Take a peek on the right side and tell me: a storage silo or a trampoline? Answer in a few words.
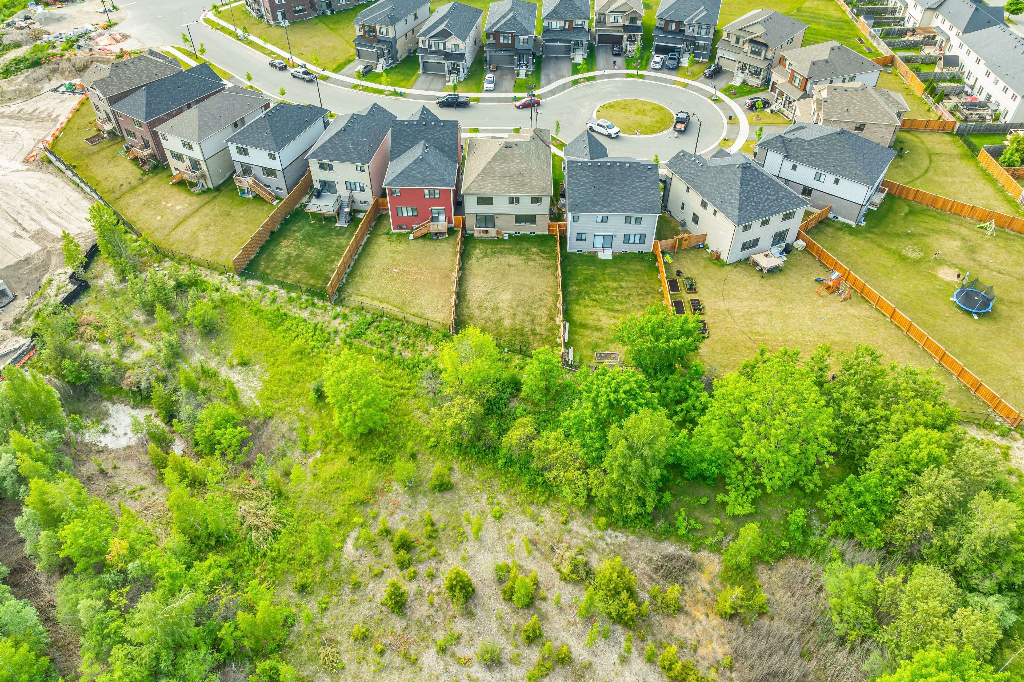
trampoline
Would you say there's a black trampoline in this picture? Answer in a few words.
No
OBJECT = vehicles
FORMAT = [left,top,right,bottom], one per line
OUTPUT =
[514,96,542,109]
[436,94,469,109]
[586,120,622,139]
[746,94,773,108]
[667,50,680,65]
[483,73,495,87]
[675,109,691,129]
[265,58,290,69]
[652,52,665,66]
[611,41,623,54]
[286,65,317,81]
[353,62,377,75]
[704,62,724,76]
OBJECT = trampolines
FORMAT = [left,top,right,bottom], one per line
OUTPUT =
[957,278,997,313]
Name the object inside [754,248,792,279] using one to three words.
gazebo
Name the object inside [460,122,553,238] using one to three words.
house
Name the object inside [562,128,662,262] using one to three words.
house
